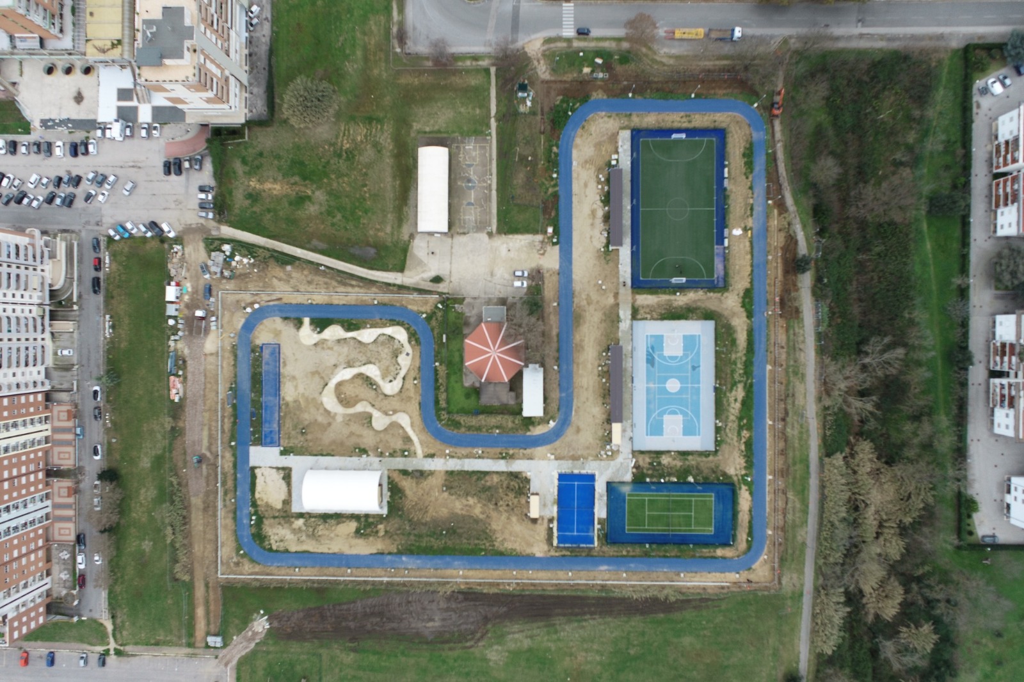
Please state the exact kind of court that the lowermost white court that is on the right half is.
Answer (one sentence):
The lowermost white court that is on the right half appears to be a basketball court.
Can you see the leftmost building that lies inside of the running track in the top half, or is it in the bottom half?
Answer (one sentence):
The leftmost building that lies inside of the running track sits in the bottom half of the picture.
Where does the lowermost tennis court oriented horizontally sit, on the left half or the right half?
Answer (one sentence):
The lowermost tennis court oriented horizontally is on the right side of the image.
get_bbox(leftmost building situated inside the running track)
[300,469,386,513]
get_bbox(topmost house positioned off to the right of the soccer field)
[990,101,1024,172]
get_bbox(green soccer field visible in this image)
[632,130,726,288]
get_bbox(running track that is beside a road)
[236,99,766,572]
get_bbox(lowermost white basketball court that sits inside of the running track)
[633,321,715,451]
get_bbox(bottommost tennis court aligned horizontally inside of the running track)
[607,482,734,544]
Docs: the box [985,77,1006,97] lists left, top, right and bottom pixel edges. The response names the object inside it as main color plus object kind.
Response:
white vehicle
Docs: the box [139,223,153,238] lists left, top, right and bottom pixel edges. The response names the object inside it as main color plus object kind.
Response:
white car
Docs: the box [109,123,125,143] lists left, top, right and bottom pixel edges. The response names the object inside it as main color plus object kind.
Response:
white vehicle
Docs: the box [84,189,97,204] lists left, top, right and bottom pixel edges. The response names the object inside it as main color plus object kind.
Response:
gray vehicle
